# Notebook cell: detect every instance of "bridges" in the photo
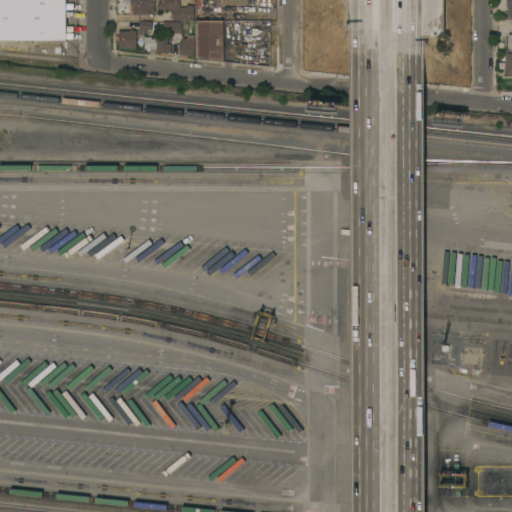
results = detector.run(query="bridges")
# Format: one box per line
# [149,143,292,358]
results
[350,0,424,512]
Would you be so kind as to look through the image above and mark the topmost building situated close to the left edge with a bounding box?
[0,0,68,42]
